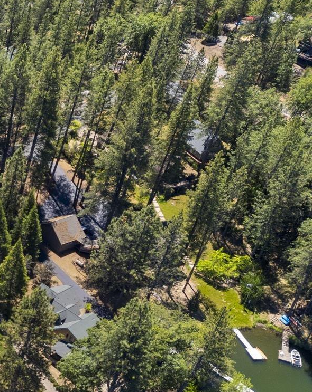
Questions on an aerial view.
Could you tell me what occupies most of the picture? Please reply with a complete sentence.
What you mostly see from above here is trees.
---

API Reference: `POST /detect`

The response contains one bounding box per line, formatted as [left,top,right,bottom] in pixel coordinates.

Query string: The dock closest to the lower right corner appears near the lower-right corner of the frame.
[275,332,291,363]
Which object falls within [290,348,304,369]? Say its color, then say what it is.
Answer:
white boat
